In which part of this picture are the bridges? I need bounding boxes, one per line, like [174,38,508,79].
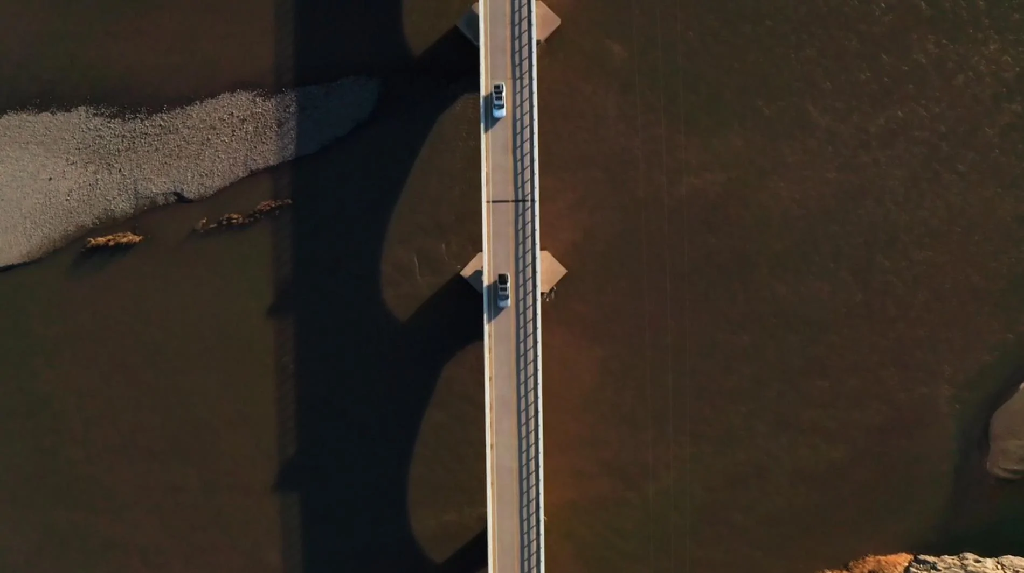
[454,0,566,573]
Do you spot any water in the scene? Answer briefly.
Yes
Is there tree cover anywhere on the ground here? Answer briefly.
No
